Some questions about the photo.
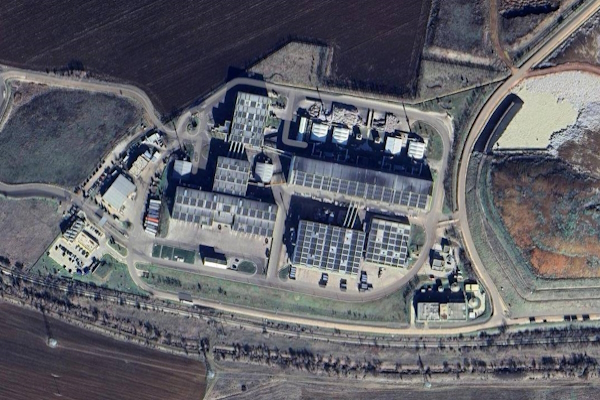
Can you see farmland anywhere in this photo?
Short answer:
Yes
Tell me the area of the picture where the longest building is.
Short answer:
center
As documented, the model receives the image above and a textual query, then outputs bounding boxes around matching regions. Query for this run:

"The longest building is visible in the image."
[287,156,434,212]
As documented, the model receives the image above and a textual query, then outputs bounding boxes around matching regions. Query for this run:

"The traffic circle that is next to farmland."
[179,111,206,142]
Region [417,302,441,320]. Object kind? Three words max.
building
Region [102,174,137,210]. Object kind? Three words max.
building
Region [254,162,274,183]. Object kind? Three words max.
shed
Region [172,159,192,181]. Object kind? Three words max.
shed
